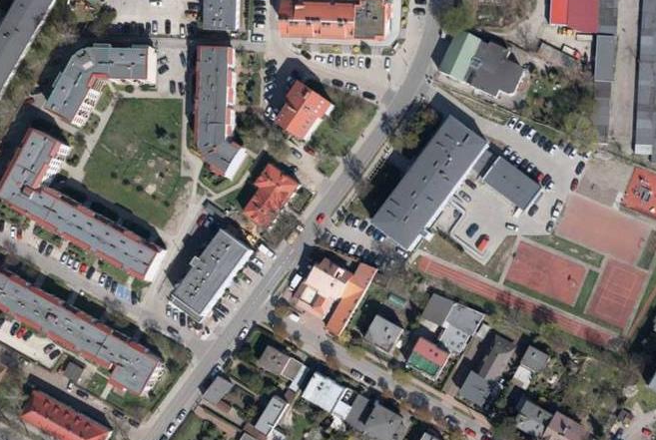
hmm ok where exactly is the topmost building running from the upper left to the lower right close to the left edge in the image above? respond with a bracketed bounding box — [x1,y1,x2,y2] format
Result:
[0,129,162,280]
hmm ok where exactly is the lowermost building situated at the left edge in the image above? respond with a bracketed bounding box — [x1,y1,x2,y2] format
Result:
[21,390,113,440]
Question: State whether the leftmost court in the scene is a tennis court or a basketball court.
basketball court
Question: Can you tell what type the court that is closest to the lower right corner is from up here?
tennis court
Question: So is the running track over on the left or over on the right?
right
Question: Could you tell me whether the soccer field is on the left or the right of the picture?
right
